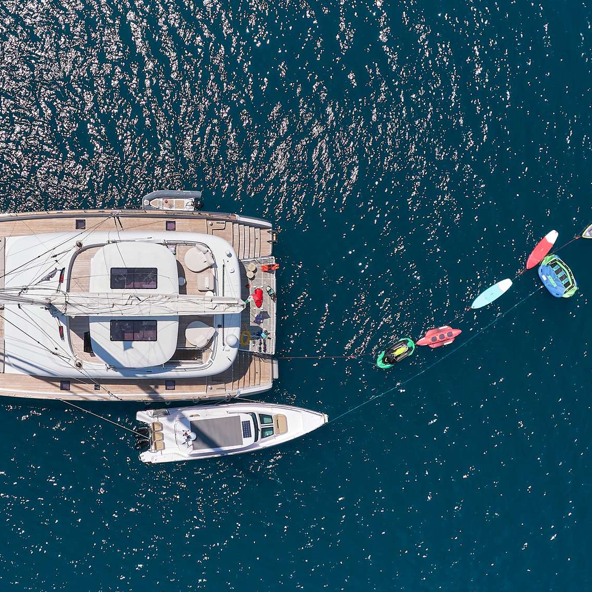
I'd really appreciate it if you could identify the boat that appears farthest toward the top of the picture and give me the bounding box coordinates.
[142,190,203,211]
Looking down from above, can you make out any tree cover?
No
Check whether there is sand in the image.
No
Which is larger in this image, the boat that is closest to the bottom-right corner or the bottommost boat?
the bottommost boat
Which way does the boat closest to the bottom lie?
horizontally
